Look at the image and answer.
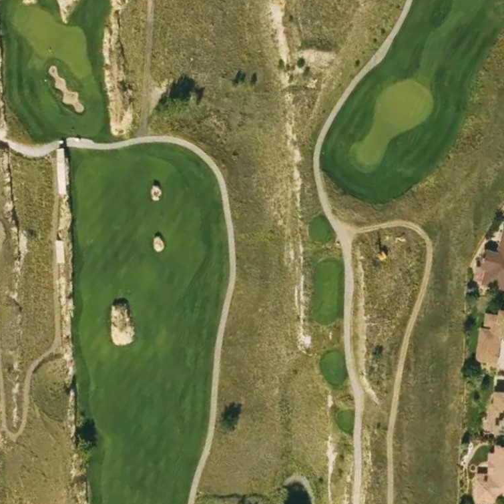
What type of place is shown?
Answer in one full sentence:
What you see here is a golf course.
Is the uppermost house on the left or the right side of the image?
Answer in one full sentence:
The uppermost house appears in the right half of the scene.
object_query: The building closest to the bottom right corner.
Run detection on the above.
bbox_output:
[473,448,504,504]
